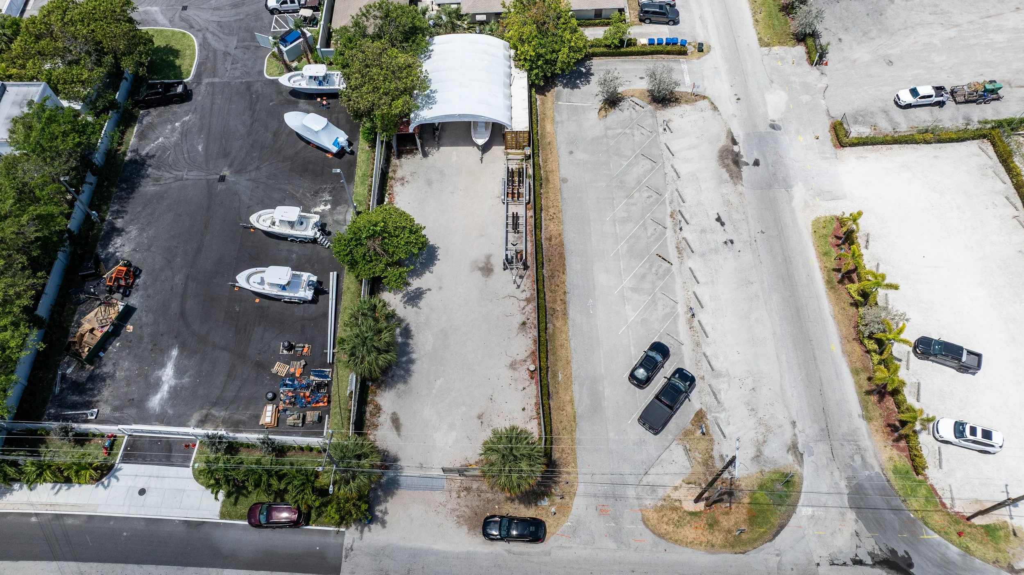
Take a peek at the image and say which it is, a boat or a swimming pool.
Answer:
boat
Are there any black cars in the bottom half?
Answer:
Yes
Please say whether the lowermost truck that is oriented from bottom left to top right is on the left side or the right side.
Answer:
right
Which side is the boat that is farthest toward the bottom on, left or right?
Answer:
left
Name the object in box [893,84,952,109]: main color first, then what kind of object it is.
white truck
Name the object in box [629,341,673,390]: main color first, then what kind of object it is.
black car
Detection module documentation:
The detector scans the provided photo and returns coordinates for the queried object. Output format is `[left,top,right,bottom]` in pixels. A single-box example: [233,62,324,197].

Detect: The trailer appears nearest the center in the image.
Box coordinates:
[502,157,531,281]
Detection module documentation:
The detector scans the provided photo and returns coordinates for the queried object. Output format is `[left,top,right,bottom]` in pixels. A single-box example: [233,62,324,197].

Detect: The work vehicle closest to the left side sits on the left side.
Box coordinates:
[74,260,139,297]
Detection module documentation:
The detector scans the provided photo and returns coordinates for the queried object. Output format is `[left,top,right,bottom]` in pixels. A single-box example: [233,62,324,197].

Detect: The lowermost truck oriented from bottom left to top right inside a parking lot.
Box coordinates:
[636,367,698,439]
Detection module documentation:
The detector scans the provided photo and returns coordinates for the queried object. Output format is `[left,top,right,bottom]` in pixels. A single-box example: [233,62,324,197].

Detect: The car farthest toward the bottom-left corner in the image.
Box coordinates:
[245,498,308,533]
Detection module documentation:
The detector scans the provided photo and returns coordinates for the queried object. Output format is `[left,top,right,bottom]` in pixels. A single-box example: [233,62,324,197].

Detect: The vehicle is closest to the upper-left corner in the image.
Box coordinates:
[131,79,191,108]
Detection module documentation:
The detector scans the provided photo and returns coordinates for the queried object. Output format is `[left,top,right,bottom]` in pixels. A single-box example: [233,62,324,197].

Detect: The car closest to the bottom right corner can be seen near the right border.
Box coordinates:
[930,418,1005,458]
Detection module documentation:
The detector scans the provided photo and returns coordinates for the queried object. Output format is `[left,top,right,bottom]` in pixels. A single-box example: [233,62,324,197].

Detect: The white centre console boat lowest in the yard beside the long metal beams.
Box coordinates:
[236,267,323,305]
